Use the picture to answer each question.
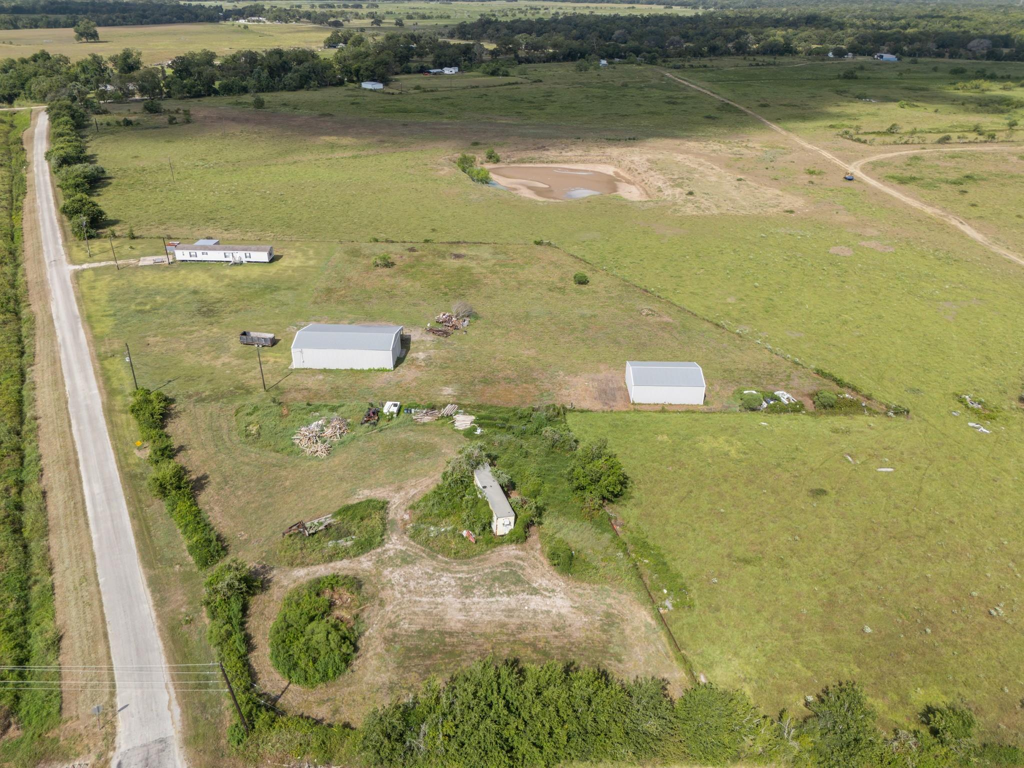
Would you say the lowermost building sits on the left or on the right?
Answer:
right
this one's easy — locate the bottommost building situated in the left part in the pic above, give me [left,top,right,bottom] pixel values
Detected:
[290,324,407,370]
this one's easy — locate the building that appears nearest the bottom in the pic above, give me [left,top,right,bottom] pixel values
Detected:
[625,361,708,405]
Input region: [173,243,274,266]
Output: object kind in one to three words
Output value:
house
